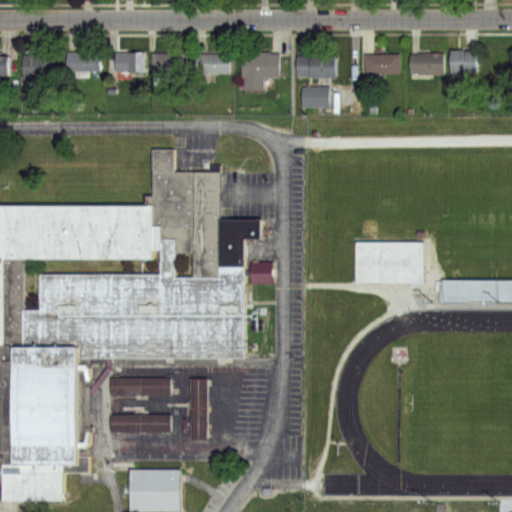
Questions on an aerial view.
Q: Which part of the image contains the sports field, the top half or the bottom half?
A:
bottom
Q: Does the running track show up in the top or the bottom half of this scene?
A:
bottom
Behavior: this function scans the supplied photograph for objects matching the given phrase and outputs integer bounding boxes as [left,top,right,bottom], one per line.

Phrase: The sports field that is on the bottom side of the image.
[358,331,512,475]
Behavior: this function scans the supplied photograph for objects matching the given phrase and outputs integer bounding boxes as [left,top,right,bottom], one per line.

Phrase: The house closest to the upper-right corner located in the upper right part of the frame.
[448,50,477,74]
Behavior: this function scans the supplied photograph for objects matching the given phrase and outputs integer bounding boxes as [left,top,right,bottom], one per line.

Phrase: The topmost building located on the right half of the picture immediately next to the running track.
[356,242,426,284]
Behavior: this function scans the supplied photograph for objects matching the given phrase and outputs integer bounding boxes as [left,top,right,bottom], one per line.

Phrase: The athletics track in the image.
[325,312,512,494]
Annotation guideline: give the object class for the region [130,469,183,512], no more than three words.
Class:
building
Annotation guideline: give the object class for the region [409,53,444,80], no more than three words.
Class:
house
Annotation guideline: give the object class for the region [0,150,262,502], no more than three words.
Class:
building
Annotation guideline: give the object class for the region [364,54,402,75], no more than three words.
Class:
house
